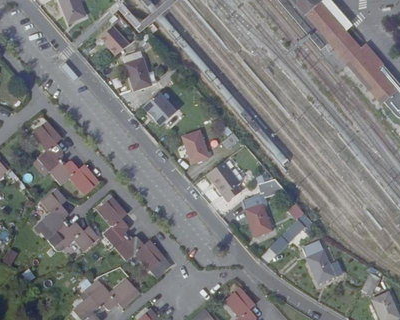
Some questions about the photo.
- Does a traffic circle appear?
No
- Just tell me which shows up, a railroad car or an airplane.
railroad car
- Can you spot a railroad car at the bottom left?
No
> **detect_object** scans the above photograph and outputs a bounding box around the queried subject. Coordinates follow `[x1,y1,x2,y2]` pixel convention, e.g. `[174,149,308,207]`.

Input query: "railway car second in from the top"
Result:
[176,37,218,84]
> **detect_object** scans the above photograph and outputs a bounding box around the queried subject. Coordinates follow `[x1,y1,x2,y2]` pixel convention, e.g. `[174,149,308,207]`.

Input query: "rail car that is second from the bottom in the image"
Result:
[213,80,252,124]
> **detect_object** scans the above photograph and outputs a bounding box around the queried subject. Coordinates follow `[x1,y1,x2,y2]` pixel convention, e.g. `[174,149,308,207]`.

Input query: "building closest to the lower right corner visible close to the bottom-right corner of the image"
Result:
[370,291,400,320]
